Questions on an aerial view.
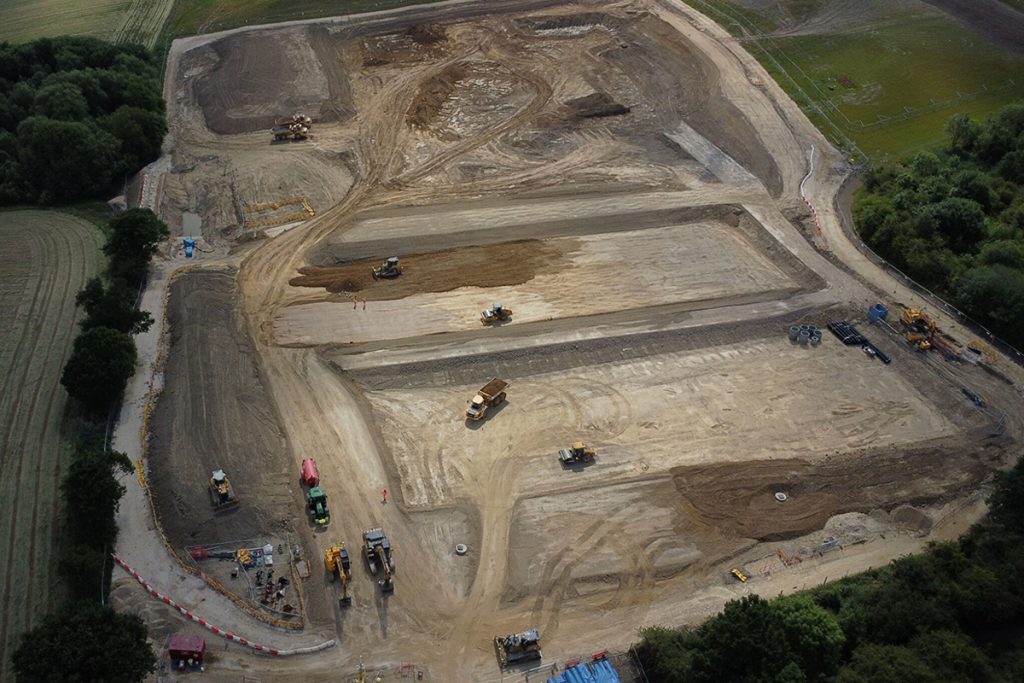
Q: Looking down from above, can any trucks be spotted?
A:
Yes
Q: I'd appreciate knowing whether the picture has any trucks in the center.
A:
Yes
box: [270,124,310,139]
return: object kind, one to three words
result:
vehicle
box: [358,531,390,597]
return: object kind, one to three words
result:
work vehicle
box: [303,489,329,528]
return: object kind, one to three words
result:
work vehicle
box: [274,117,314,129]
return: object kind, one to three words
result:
vehicle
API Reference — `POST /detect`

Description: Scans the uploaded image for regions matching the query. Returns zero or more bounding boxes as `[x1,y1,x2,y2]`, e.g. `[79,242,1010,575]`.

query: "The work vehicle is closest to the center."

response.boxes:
[481,302,513,322]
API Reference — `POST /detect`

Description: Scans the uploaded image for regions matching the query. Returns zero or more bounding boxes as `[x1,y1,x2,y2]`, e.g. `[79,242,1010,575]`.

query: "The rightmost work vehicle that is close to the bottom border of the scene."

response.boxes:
[486,631,542,677]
